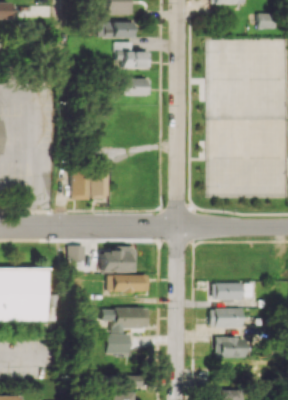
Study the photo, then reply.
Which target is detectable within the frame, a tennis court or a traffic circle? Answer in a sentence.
It is a tennis court that can be seen here.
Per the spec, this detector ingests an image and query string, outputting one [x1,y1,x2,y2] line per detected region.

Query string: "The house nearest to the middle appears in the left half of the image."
[90,172,108,200]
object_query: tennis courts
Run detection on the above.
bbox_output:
[244,118,284,196]
[205,40,244,118]
[205,118,244,196]
[244,40,284,118]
